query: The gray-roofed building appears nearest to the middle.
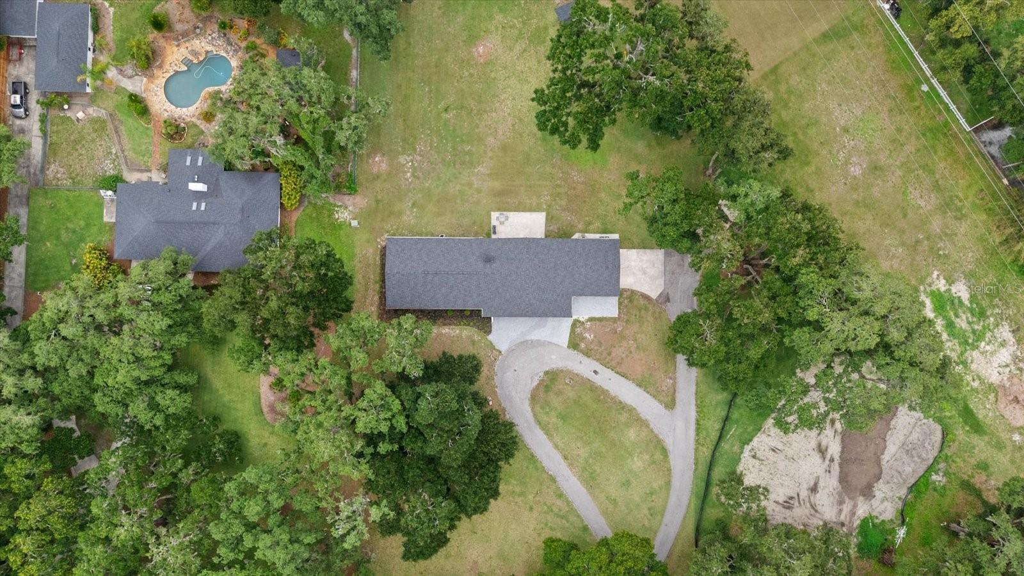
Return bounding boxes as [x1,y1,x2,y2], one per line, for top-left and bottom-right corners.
[384,237,621,318]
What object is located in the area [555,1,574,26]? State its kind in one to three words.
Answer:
shed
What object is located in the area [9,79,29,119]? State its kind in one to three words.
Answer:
vehicle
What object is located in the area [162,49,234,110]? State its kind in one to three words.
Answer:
swimming pool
